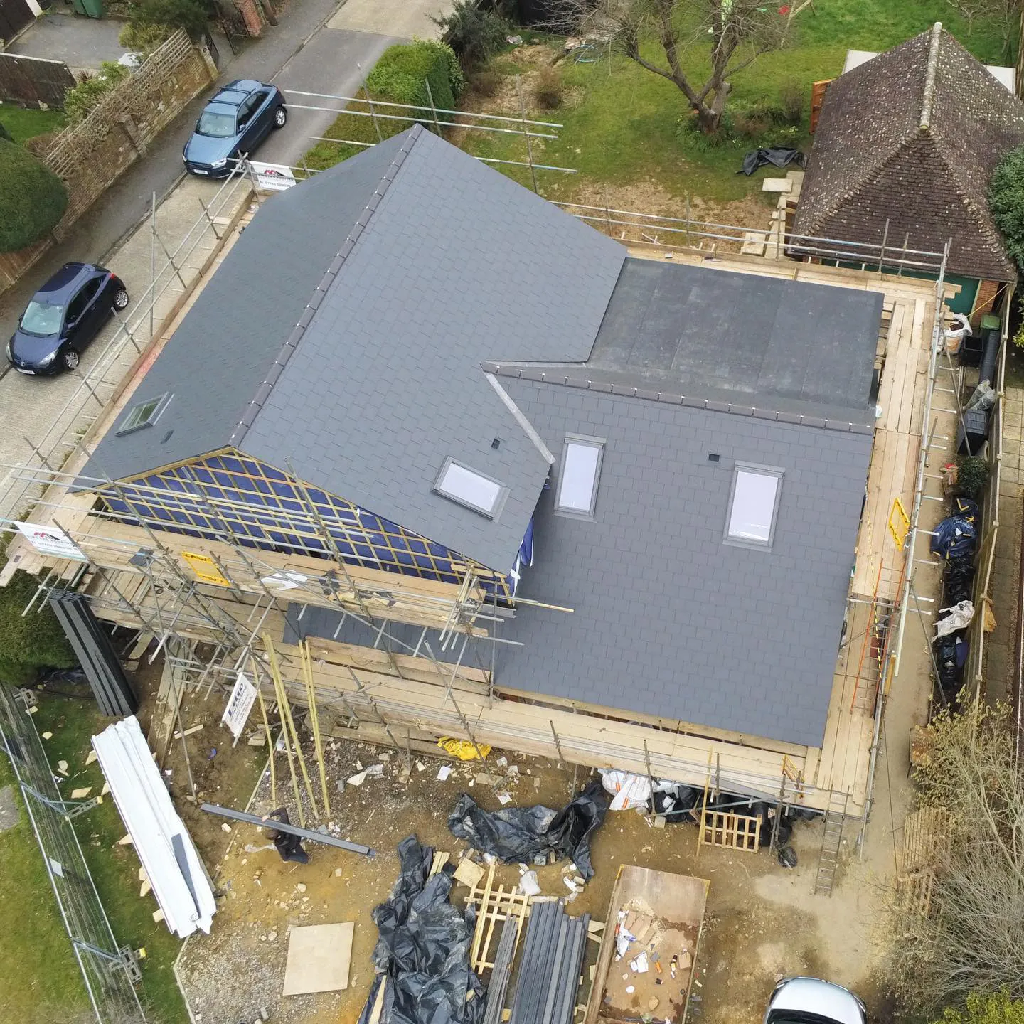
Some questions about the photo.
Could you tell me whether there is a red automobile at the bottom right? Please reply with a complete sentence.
No, the scene shows no red automobile at the bottom right.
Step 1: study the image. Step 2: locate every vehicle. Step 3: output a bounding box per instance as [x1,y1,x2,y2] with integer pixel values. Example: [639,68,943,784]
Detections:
[0,261,124,380]
[169,77,286,181]
[767,973,867,1024]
